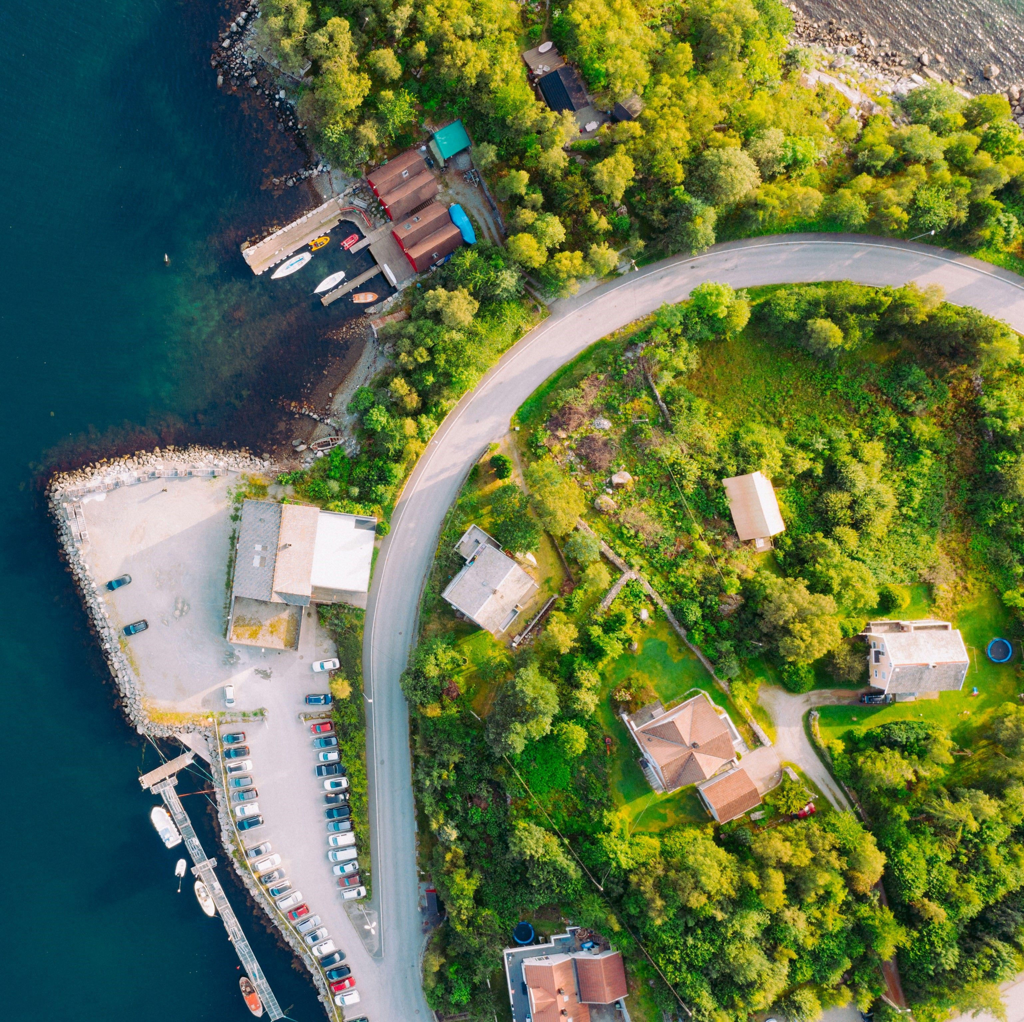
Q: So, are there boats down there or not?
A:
Yes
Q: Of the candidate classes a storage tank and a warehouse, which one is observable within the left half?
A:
warehouse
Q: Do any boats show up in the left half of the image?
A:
Yes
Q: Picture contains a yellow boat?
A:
Yes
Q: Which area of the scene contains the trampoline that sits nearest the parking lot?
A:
bottom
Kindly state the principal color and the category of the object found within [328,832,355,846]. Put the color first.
white vehicle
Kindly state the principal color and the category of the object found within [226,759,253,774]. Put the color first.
white car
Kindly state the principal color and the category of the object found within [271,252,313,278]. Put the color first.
white boat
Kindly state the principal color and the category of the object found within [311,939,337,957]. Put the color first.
white car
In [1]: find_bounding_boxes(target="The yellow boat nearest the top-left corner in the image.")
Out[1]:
[307,236,331,253]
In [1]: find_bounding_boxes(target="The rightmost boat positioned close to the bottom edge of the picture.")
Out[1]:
[243,977,261,1017]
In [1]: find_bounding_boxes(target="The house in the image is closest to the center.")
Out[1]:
[441,524,553,634]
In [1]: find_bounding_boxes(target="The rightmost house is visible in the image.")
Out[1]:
[868,620,970,702]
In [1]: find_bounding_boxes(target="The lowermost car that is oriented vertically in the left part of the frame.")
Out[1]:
[224,683,236,708]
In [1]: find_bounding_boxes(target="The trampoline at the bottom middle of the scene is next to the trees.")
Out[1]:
[512,922,535,944]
